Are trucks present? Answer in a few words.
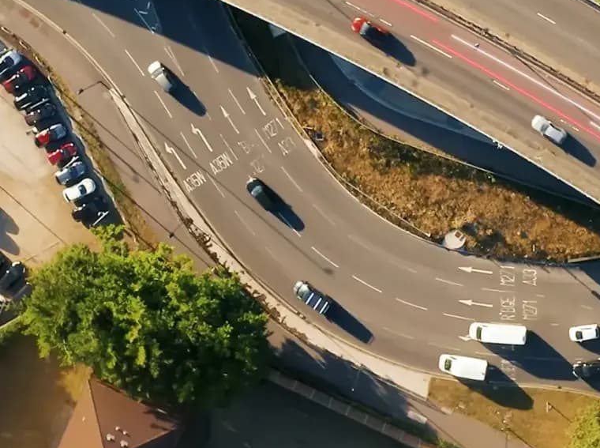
Yes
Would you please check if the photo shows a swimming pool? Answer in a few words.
No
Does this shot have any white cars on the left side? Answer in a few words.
Yes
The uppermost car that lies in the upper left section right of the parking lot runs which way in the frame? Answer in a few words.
on a diagonal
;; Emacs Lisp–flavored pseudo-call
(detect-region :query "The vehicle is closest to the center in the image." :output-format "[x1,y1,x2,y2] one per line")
[243,178,273,212]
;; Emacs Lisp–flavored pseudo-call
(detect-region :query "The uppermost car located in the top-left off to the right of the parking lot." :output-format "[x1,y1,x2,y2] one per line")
[144,59,175,95]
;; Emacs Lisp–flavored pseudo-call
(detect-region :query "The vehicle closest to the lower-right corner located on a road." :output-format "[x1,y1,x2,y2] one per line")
[573,359,600,378]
